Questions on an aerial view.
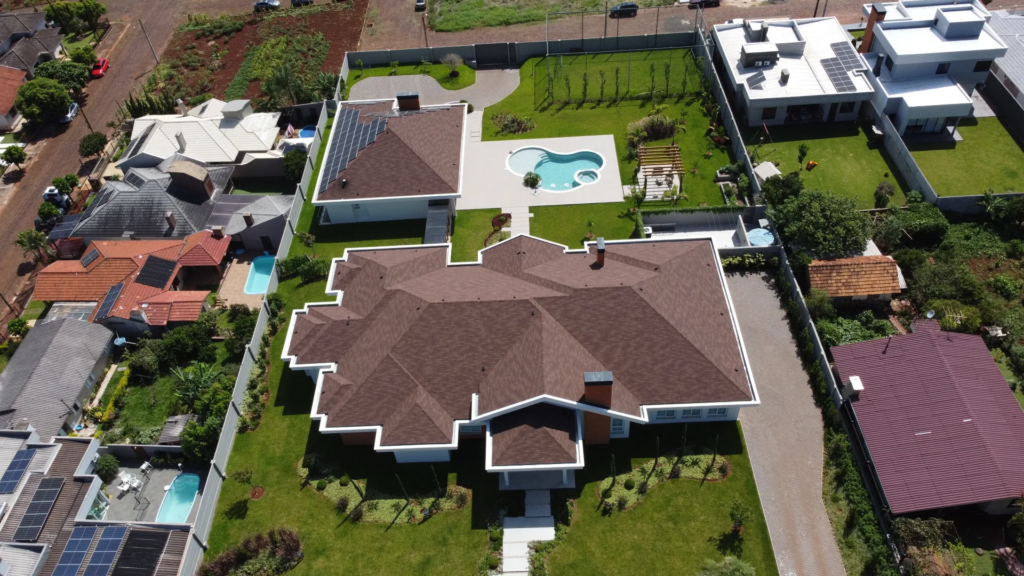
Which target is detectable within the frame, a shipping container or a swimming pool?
swimming pool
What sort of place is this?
residential area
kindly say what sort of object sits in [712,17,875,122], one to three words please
house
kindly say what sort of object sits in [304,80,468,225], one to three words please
shed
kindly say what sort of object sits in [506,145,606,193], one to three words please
swimming pool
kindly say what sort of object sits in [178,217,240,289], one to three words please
gazebo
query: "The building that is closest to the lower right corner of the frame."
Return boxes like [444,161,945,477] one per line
[828,319,1024,520]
